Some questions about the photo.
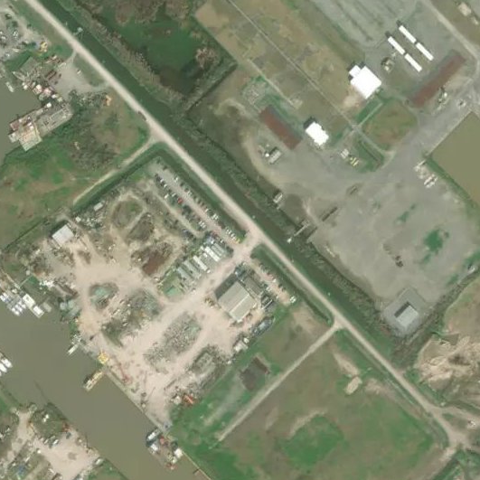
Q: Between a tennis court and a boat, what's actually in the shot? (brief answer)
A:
boat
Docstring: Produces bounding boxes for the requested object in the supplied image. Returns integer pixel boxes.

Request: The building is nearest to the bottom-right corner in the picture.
[395,304,419,327]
